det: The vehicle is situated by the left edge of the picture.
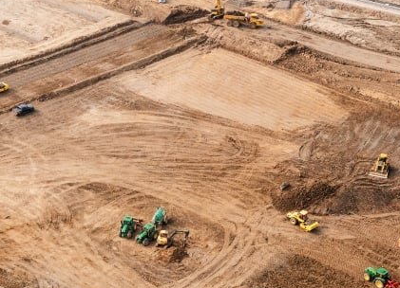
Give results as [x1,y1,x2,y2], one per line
[11,104,35,116]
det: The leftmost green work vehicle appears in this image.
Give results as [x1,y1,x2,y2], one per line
[119,214,138,239]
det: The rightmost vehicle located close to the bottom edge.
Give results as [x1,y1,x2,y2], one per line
[359,266,390,288]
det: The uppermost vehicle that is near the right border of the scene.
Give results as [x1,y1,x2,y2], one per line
[368,154,390,181]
